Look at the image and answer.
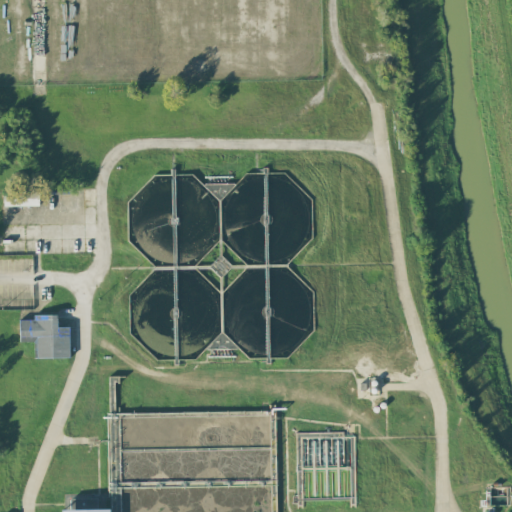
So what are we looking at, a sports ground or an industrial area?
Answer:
industrial area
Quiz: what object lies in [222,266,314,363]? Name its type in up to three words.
storage tank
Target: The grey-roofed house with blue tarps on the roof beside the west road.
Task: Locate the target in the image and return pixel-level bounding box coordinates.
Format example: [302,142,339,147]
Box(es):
[20,315,70,359]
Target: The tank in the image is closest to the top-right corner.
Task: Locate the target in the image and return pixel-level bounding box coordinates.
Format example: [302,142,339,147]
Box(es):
[221,166,314,266]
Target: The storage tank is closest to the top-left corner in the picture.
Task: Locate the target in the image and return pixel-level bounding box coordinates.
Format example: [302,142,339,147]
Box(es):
[129,168,221,267]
